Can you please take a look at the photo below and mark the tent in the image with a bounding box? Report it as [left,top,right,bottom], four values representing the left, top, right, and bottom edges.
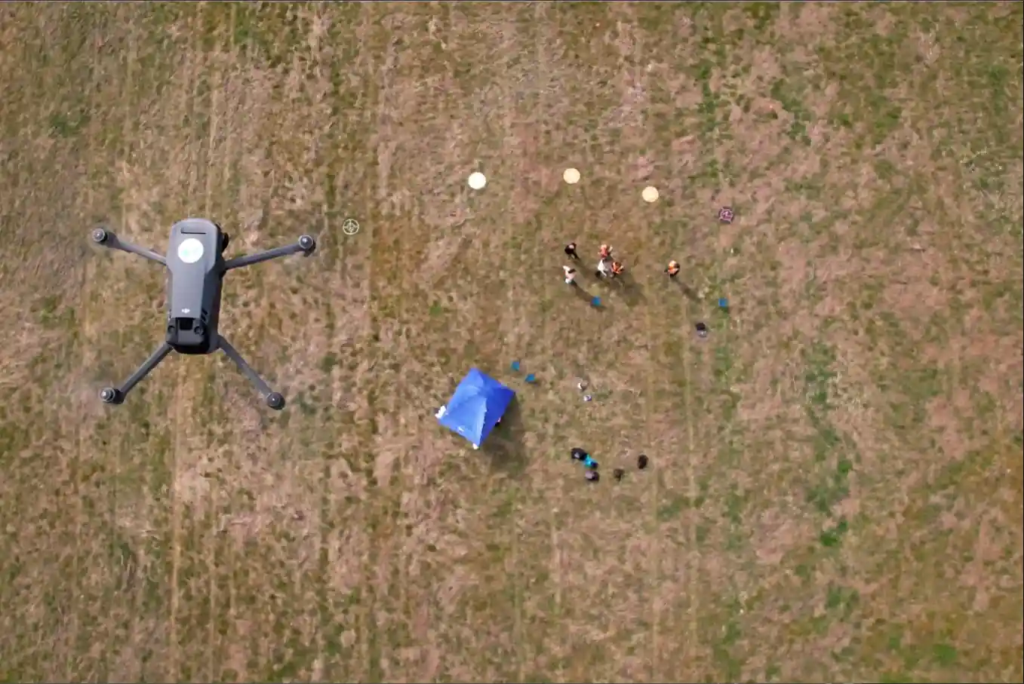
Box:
[438,368,516,450]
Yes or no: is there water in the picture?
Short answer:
No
